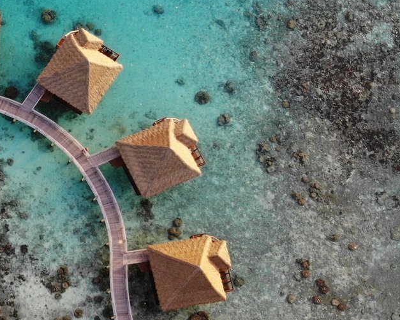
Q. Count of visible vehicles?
0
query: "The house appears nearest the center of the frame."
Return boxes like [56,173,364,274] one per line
[109,117,205,198]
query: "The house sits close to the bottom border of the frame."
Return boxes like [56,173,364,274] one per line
[133,233,232,310]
